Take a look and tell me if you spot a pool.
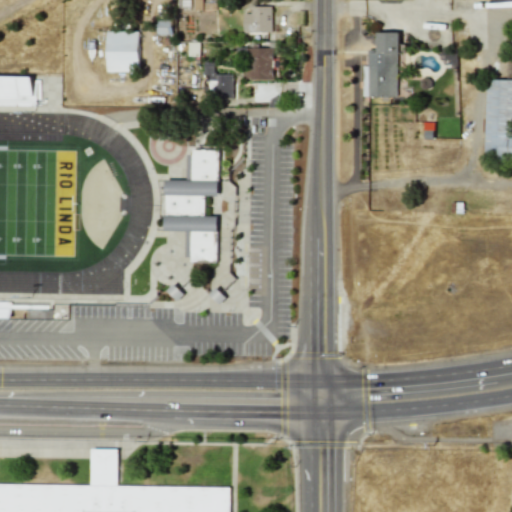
Yes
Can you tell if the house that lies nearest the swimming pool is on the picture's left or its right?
right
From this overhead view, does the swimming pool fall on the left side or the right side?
right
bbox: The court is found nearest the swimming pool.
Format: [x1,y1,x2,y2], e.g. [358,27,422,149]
[438,117,460,138]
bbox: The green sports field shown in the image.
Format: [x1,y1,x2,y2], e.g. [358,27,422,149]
[0,136,130,272]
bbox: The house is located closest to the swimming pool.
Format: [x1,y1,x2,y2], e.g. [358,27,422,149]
[364,32,400,97]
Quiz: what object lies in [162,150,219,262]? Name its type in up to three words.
building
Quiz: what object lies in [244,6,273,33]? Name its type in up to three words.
house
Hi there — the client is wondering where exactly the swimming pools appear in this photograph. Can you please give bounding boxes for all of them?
[404,51,447,81]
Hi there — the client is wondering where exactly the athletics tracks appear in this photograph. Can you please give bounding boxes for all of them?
[0,113,153,294]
